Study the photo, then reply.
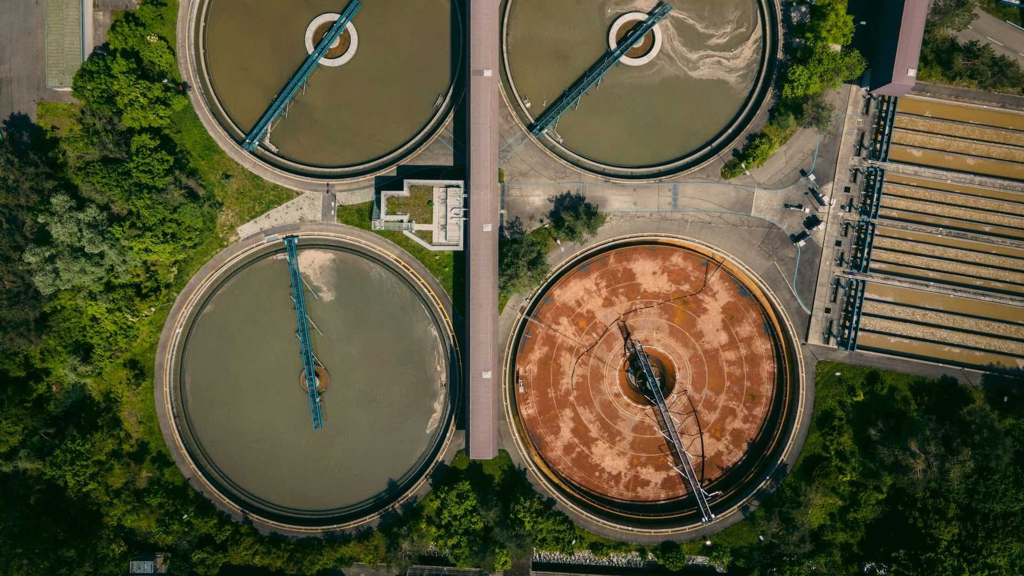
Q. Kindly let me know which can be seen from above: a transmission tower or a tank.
tank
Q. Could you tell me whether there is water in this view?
Yes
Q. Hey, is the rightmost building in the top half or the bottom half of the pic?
top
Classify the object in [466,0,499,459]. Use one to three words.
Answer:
building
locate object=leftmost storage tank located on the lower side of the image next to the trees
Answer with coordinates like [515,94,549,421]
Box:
[167,235,460,528]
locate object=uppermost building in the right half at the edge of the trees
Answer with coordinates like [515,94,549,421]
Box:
[871,0,930,95]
